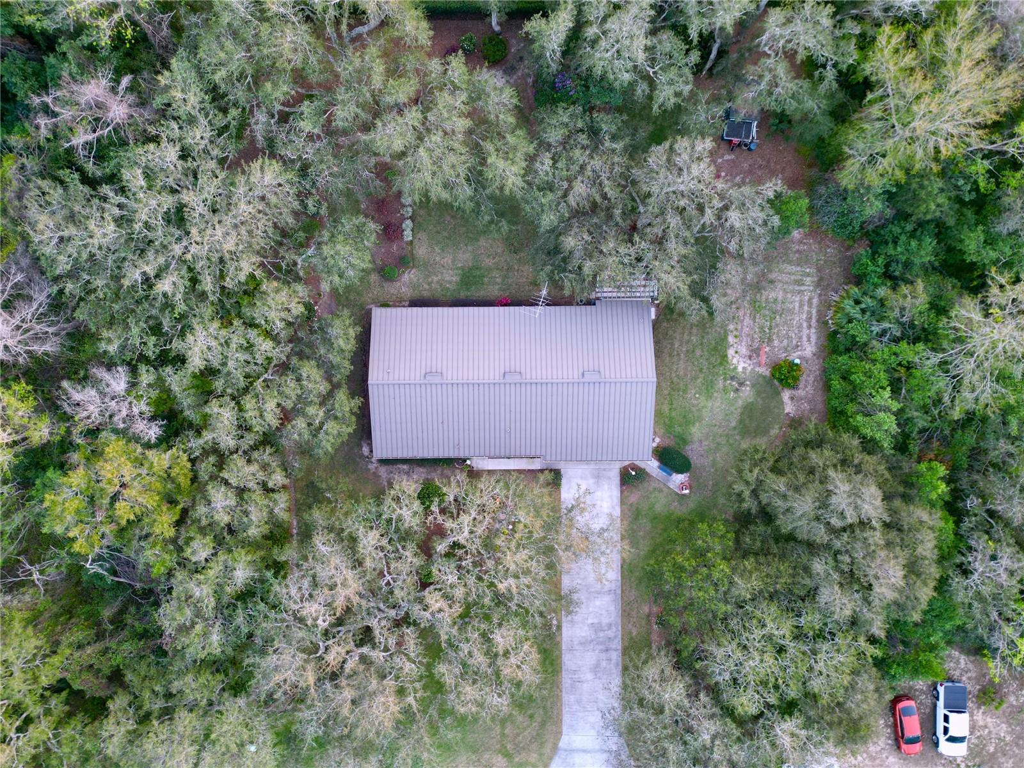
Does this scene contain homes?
Yes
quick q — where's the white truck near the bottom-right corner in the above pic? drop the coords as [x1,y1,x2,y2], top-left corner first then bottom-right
[931,676,972,756]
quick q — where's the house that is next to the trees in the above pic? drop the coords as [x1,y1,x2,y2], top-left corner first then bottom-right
[367,299,657,464]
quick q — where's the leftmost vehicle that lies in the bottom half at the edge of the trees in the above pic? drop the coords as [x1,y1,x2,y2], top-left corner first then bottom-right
[889,694,925,754]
